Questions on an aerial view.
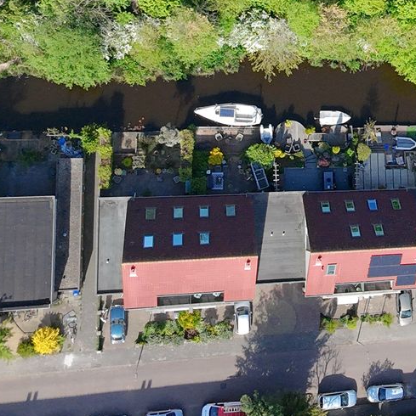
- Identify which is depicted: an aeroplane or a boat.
boat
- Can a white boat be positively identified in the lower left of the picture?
No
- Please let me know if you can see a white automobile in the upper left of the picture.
No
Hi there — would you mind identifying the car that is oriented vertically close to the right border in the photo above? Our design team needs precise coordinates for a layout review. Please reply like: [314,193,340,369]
[396,289,415,326]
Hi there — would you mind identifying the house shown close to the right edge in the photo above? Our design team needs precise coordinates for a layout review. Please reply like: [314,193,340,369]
[304,188,416,306]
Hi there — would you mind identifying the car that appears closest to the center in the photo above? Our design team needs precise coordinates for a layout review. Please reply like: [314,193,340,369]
[233,300,252,337]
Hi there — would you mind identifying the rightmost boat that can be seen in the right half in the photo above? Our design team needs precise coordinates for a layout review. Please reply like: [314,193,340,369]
[394,136,416,149]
